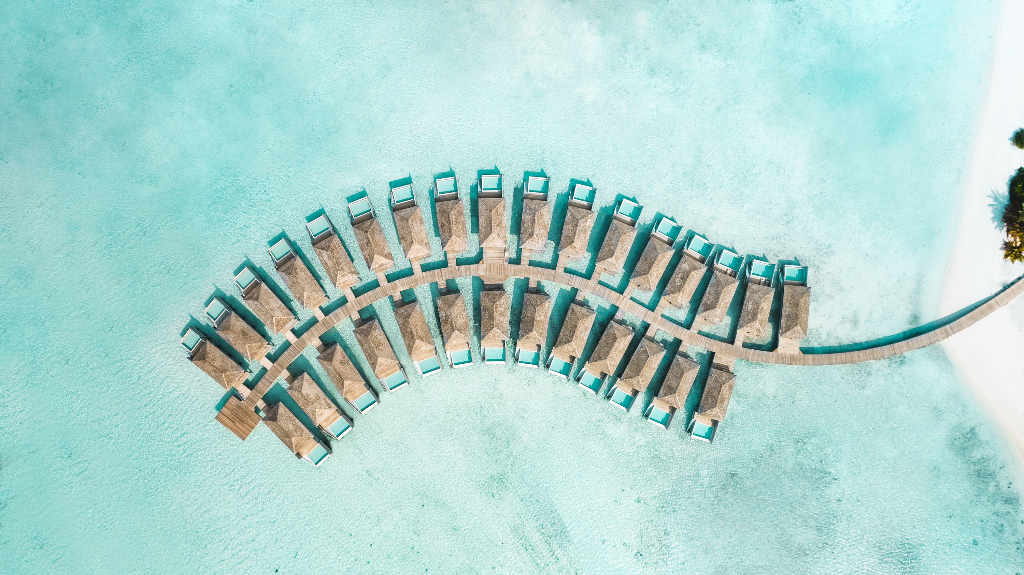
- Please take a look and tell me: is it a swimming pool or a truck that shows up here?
swimming pool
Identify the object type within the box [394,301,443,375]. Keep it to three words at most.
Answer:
house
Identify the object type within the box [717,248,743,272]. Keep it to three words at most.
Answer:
swimming pool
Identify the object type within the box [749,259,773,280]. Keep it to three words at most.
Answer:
swimming pool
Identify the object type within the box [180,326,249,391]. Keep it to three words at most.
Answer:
house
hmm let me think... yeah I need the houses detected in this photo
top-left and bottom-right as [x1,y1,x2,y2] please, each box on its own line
[644,350,700,431]
[437,291,474,366]
[394,301,443,375]
[514,288,551,369]
[695,251,746,327]
[558,186,597,262]
[180,326,249,391]
[316,343,380,413]
[285,372,354,439]
[233,265,298,335]
[736,263,777,338]
[205,295,272,362]
[777,264,810,340]
[261,401,333,467]
[390,183,431,263]
[434,175,468,255]
[480,275,508,365]
[629,220,684,294]
[270,236,328,311]
[520,177,550,254]
[595,201,645,276]
[353,319,410,390]
[577,317,634,397]
[347,195,394,274]
[478,174,506,252]
[659,237,717,311]
[546,299,596,380]
[687,363,737,445]
[608,334,666,413]
[306,213,360,291]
